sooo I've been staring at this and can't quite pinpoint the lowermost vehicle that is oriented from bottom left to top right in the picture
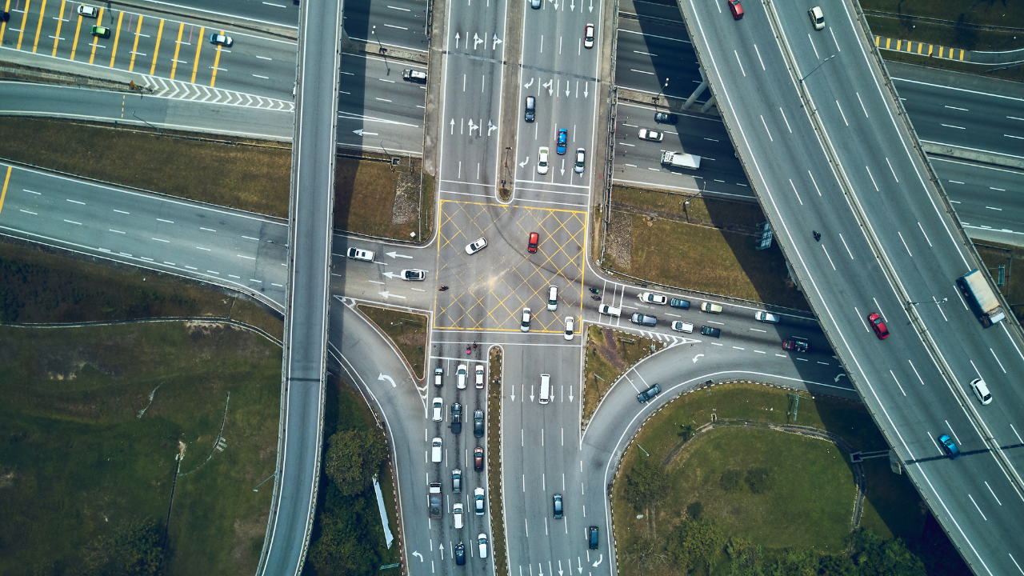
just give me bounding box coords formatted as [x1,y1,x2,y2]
[637,383,661,403]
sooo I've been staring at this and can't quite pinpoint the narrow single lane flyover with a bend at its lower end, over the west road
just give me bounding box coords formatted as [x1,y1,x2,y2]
[254,0,346,576]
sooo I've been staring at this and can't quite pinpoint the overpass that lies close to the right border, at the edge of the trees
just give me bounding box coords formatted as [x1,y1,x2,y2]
[675,0,1024,576]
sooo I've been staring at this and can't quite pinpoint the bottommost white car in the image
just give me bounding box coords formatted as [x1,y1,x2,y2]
[477,532,489,559]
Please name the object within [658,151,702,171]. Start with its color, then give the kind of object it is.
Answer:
white vehicle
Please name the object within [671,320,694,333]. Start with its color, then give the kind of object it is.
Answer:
white vehicle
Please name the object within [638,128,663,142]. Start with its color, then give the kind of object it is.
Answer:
white car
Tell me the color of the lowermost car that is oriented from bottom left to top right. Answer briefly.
blue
